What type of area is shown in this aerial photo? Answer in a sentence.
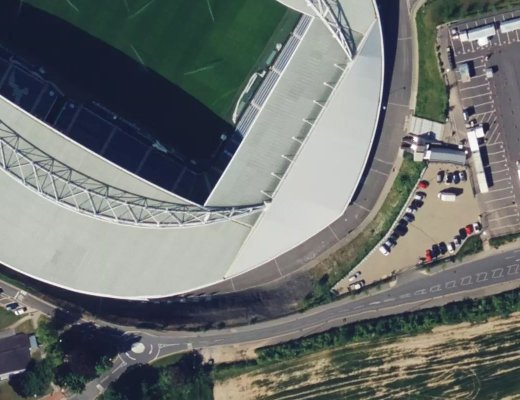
This looks like a sports ground.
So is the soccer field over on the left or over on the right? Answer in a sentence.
It is on the left.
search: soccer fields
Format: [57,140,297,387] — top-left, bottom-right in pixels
[0,0,303,126]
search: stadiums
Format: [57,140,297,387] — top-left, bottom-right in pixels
[0,0,384,299]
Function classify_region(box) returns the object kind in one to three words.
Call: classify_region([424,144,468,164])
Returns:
building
